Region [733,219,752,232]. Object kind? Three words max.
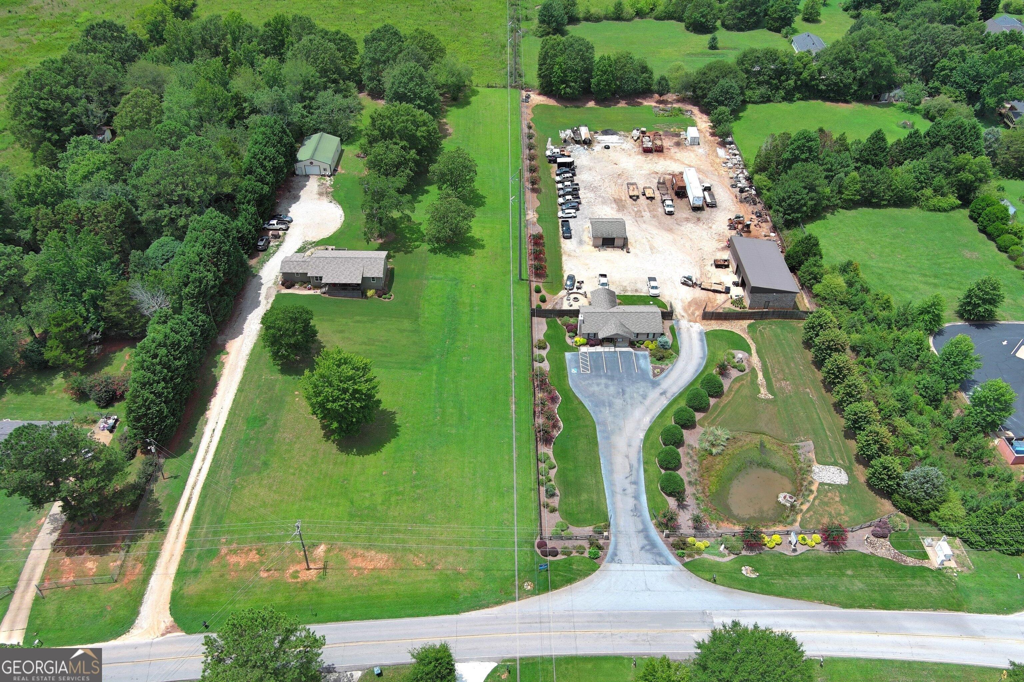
vehicle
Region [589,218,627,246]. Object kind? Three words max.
shed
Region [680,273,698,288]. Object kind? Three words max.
work vehicle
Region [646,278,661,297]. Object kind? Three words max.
vehicle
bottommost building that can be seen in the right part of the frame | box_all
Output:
[577,285,663,347]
